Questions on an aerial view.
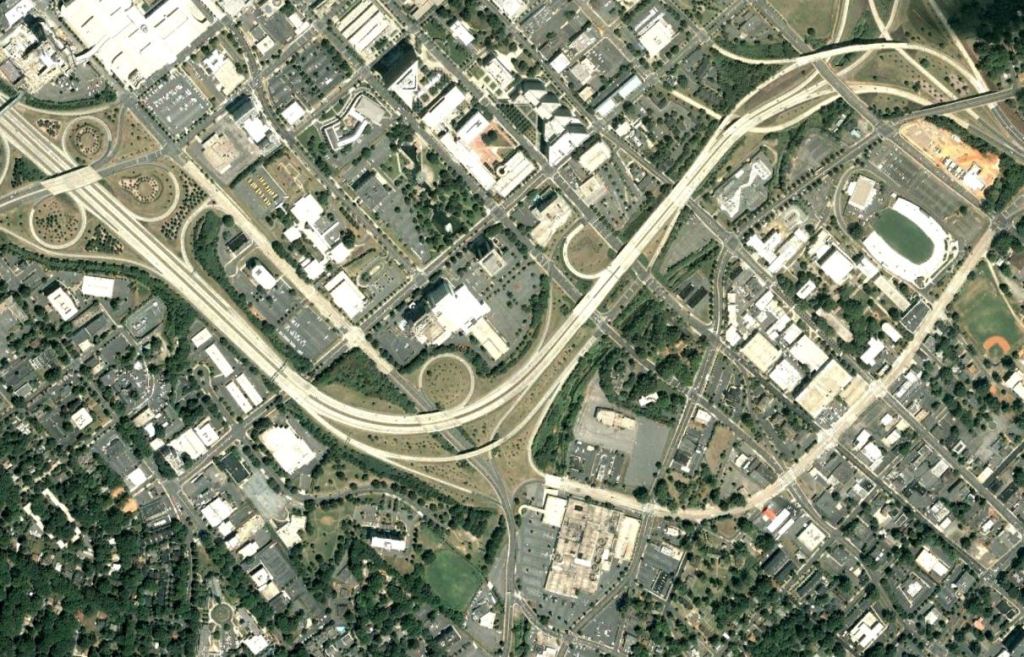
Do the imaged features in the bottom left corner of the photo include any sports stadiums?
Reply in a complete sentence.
No, no sports stadium can be made out in the bottom left corner of the photo.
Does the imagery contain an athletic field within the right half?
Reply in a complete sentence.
Yes, an athletic field shows up within the right half.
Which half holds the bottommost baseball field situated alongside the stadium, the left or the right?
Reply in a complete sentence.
The bottommost baseball field situated alongside the stadium is on the right side of the image.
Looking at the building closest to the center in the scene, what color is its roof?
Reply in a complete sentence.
The roof over the building closest to the center appears white.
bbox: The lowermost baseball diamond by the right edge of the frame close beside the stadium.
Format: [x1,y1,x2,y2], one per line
[958,268,1024,362]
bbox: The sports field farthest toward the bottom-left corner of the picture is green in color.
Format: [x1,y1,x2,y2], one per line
[424,547,485,610]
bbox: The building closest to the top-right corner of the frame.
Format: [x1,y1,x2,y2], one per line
[964,162,985,190]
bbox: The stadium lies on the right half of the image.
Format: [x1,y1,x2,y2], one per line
[863,198,958,288]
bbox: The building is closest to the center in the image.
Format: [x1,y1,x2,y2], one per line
[472,317,509,360]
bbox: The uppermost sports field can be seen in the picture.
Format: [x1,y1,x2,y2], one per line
[872,208,933,263]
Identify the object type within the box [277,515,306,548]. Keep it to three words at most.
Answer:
building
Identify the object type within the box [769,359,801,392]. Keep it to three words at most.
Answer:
building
